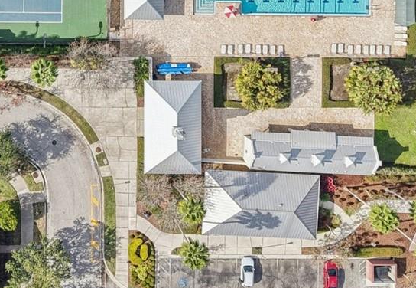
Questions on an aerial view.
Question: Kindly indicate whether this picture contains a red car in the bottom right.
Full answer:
Yes, a red car can be seen in the bottom right.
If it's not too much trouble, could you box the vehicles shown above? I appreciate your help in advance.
[240,255,257,288]
[323,259,341,288]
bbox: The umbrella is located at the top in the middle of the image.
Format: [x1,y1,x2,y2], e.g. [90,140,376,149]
[225,5,238,19]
